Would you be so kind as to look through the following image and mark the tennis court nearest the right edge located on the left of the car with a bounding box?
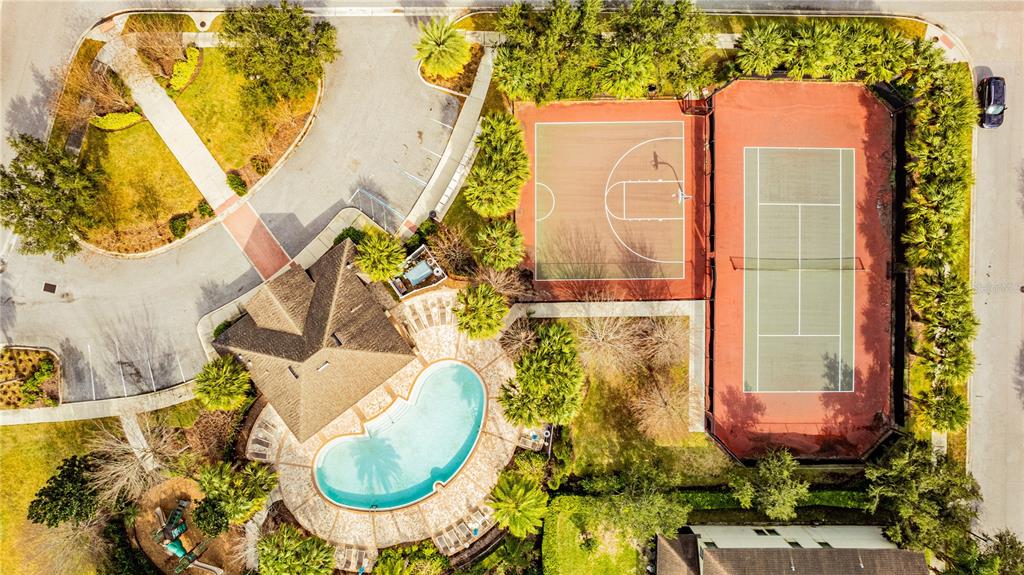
[715,80,894,460]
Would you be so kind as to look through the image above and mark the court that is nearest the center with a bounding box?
[516,97,709,300]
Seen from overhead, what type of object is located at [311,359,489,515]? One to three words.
swimming pool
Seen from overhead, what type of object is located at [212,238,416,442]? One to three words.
building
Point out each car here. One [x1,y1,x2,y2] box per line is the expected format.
[977,78,1005,128]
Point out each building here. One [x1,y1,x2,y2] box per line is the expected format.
[651,524,937,575]
[212,238,416,442]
